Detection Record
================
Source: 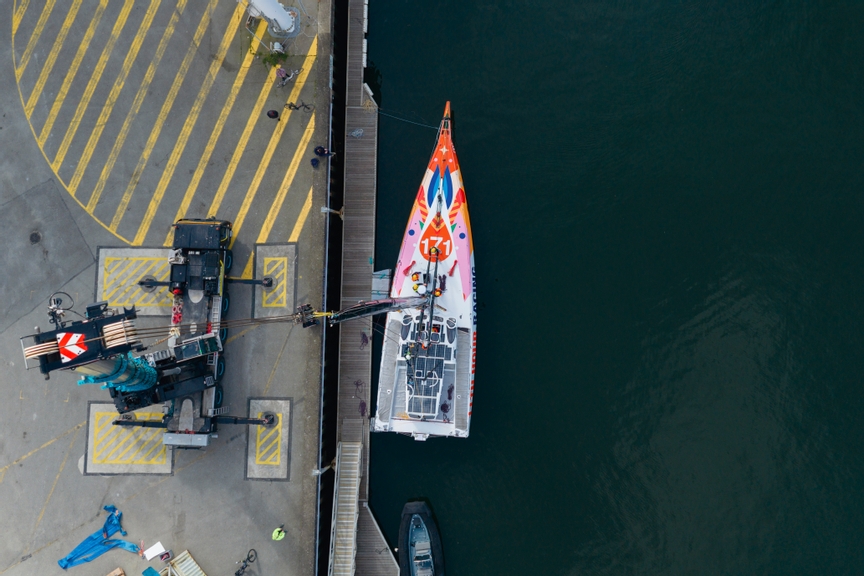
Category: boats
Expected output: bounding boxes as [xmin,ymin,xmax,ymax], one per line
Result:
[377,100,477,441]
[398,500,445,576]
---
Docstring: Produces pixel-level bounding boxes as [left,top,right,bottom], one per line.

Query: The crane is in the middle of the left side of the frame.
[17,216,294,449]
